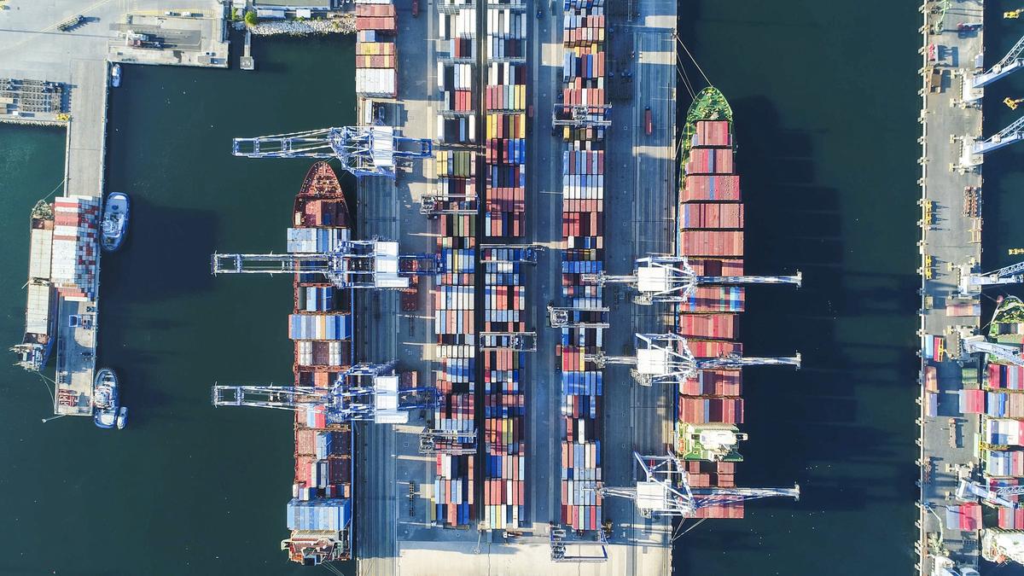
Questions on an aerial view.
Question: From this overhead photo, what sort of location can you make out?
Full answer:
The picture captures a port.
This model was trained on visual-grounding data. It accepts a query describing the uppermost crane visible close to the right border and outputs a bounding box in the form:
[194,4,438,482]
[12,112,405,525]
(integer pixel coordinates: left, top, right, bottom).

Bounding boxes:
[948,27,1024,112]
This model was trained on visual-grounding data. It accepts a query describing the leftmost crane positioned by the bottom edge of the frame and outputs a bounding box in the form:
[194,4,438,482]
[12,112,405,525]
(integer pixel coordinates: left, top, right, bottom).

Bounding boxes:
[549,526,609,563]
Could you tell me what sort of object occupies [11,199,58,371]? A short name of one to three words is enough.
ship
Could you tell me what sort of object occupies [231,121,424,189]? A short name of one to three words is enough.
container crane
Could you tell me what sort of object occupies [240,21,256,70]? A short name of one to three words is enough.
pier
